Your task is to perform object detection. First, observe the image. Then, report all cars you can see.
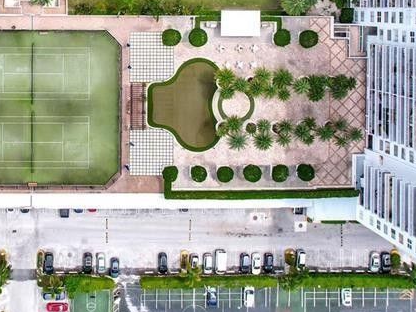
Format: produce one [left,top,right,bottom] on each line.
[87,208,96,215]
[157,250,167,273]
[339,285,351,307]
[44,250,53,272]
[243,285,254,308]
[368,250,379,272]
[46,301,68,311]
[6,208,14,214]
[189,250,198,264]
[379,249,391,272]
[179,208,188,215]
[240,250,250,273]
[250,251,261,273]
[83,250,92,273]
[59,208,69,220]
[207,285,217,308]
[20,208,29,215]
[295,249,306,272]
[74,208,83,216]
[262,250,273,273]
[96,249,106,272]
[110,256,119,276]
[202,251,213,274]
